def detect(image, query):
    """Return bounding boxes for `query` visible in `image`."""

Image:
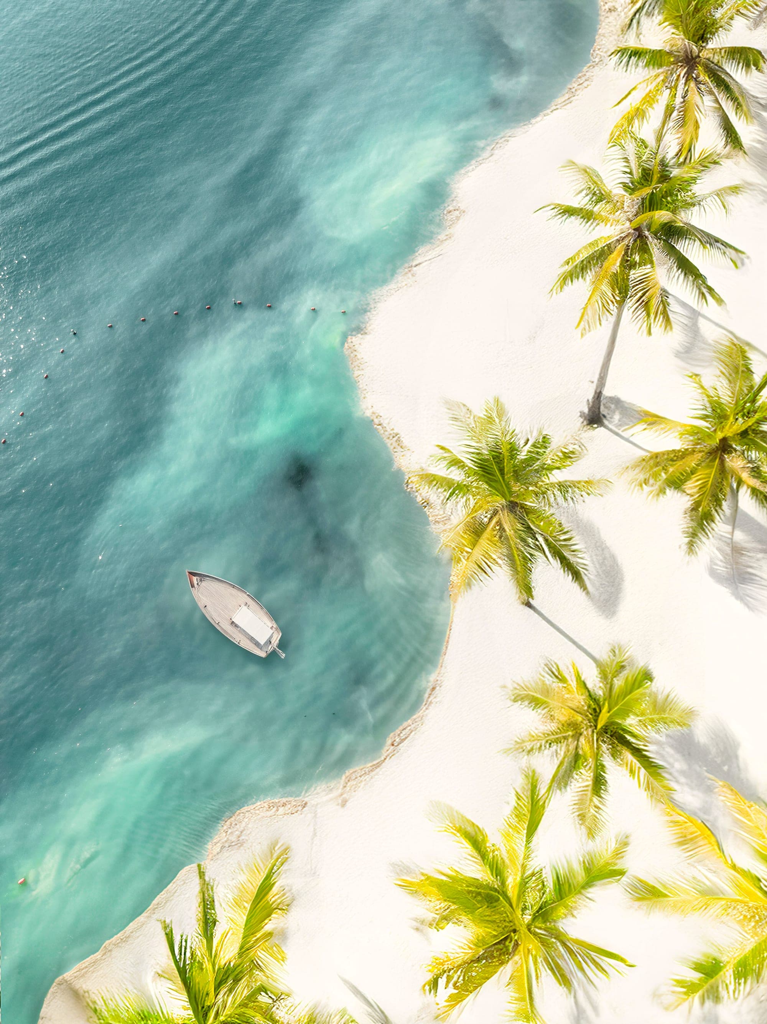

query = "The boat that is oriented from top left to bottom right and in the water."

[186,571,290,661]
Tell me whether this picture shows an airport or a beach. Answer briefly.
beach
